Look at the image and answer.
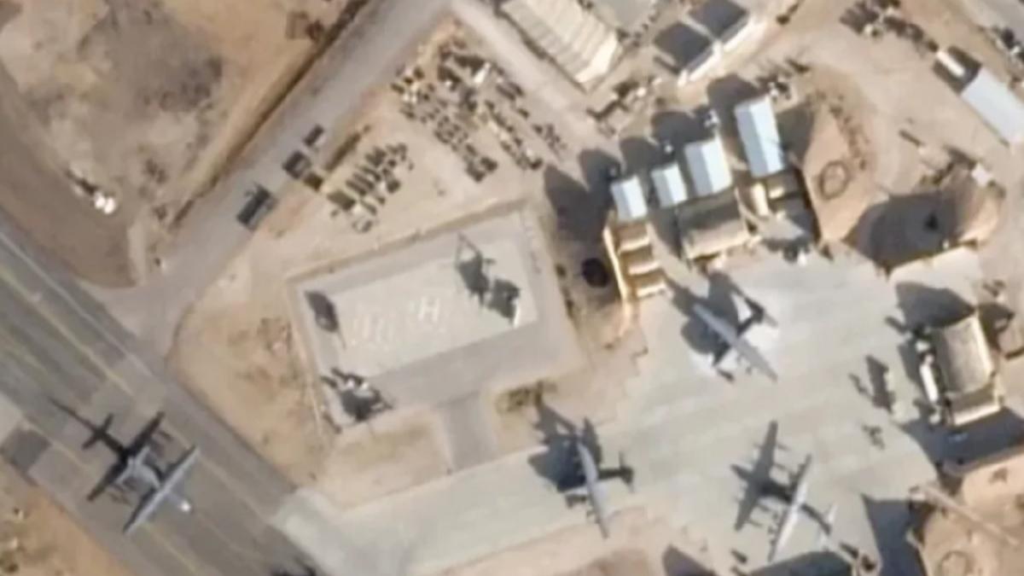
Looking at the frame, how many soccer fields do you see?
zero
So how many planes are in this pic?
4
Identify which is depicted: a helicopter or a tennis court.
helicopter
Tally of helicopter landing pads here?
1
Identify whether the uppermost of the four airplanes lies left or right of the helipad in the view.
right of it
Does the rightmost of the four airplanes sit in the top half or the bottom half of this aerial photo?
bottom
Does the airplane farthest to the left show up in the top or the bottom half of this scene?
bottom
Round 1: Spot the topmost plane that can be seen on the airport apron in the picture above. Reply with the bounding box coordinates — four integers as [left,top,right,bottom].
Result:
[692,295,781,381]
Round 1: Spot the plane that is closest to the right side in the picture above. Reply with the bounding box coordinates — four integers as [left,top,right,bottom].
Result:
[759,456,840,562]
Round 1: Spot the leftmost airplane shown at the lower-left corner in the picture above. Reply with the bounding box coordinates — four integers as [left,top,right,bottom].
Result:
[113,445,199,533]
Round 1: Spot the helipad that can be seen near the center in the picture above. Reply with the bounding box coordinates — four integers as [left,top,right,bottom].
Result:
[295,212,583,473]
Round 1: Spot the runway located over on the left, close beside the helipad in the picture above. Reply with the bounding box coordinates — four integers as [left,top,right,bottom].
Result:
[0,216,363,576]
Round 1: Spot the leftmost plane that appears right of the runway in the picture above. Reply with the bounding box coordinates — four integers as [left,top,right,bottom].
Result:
[562,432,643,541]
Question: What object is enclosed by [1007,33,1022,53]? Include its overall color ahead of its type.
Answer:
gray vehicle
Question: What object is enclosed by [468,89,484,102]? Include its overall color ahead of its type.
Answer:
gray vehicle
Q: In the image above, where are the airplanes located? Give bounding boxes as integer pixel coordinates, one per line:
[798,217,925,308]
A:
[562,432,643,541]
[759,456,840,562]
[692,295,781,381]
[113,445,199,533]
